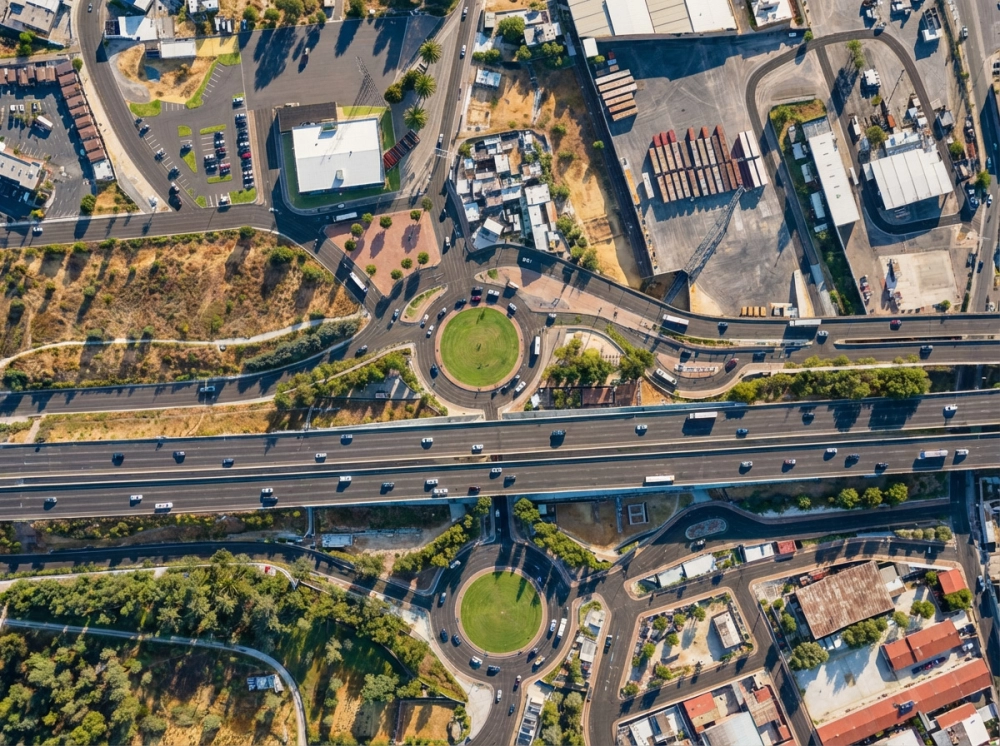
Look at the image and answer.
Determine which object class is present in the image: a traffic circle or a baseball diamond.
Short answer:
traffic circle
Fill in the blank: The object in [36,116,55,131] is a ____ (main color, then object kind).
white vehicle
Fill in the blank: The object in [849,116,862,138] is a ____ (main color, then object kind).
white vehicle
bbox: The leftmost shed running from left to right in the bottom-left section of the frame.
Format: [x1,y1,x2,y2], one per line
[244,674,277,689]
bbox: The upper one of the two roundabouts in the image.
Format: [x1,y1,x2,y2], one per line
[414,281,546,413]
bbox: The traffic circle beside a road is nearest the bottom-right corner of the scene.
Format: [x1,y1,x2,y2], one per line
[433,543,570,682]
